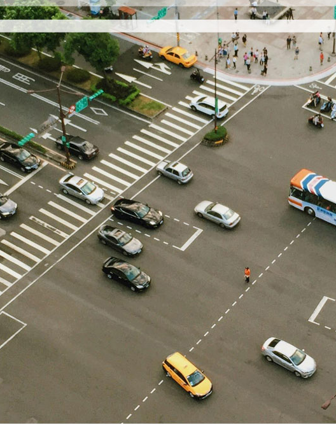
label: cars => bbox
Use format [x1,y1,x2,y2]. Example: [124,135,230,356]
[112,199,163,229]
[57,174,106,205]
[158,45,201,67]
[260,339,318,380]
[94,226,147,259]
[54,136,101,162]
[0,192,19,220]
[99,258,153,293]
[162,349,213,401]
[192,203,243,232]
[0,143,41,173]
[153,162,198,188]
